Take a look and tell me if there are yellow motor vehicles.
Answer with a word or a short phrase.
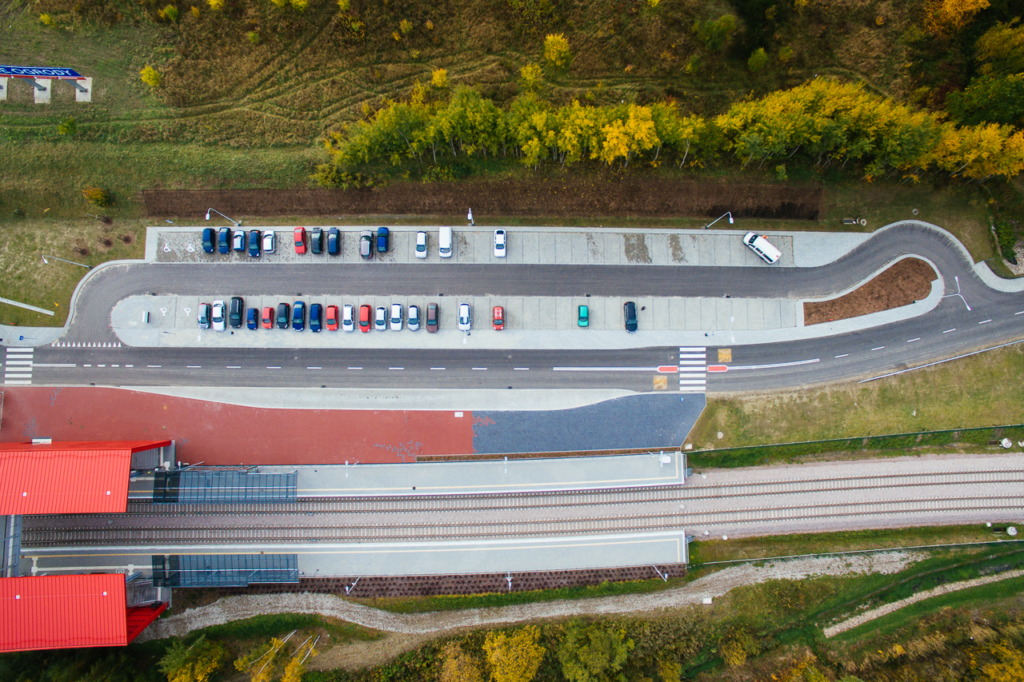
No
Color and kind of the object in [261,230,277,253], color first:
white car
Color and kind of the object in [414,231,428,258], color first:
white car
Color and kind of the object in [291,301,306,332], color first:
blue car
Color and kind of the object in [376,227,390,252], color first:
blue car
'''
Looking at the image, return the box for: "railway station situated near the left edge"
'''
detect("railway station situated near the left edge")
[0,439,167,646]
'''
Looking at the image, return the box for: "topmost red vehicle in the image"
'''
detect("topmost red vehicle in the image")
[292,227,307,254]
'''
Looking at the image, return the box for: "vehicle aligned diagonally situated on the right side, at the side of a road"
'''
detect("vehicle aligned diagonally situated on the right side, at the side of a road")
[742,234,781,265]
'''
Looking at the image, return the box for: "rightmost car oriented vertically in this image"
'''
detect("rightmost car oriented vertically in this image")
[624,301,639,333]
